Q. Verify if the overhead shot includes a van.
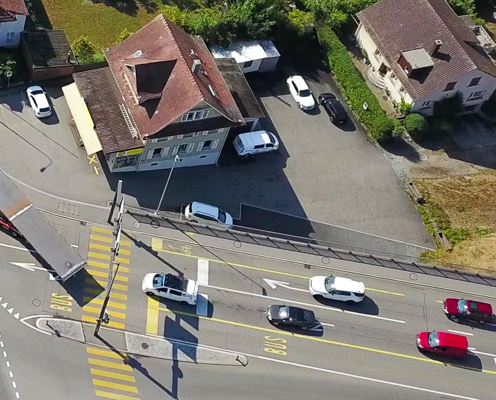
Yes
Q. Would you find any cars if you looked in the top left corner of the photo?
Yes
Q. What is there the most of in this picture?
paved ground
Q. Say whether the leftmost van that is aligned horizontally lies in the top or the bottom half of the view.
bottom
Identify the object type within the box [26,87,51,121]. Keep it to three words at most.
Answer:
car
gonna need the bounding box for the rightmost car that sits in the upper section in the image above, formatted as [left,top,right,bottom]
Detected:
[316,90,352,129]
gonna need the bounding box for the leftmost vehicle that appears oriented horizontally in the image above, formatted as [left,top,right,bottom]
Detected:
[143,271,197,303]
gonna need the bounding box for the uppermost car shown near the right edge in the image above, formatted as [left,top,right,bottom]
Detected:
[441,297,495,326]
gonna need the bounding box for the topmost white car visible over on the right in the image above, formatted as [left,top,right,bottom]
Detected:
[287,74,314,112]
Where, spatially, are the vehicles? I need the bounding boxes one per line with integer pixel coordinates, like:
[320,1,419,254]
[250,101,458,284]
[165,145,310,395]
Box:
[316,90,352,129]
[26,87,51,121]
[441,297,495,326]
[287,74,314,112]
[231,129,281,158]
[265,304,318,332]
[143,271,197,303]
[182,195,236,230]
[415,329,471,360]
[312,273,364,304]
